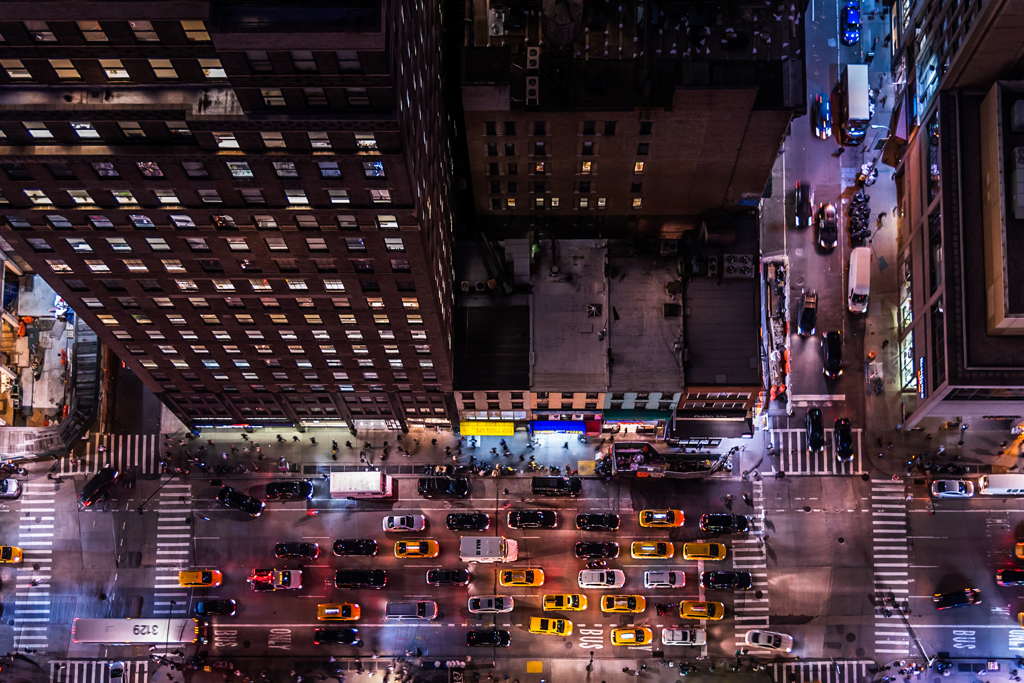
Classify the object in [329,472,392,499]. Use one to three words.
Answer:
vehicle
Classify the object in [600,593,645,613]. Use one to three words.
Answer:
car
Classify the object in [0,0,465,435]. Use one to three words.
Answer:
building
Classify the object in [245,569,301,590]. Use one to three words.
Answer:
truck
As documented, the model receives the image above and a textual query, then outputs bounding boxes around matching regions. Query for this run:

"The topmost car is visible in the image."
[841,2,862,45]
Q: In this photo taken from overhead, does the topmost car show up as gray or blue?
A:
blue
